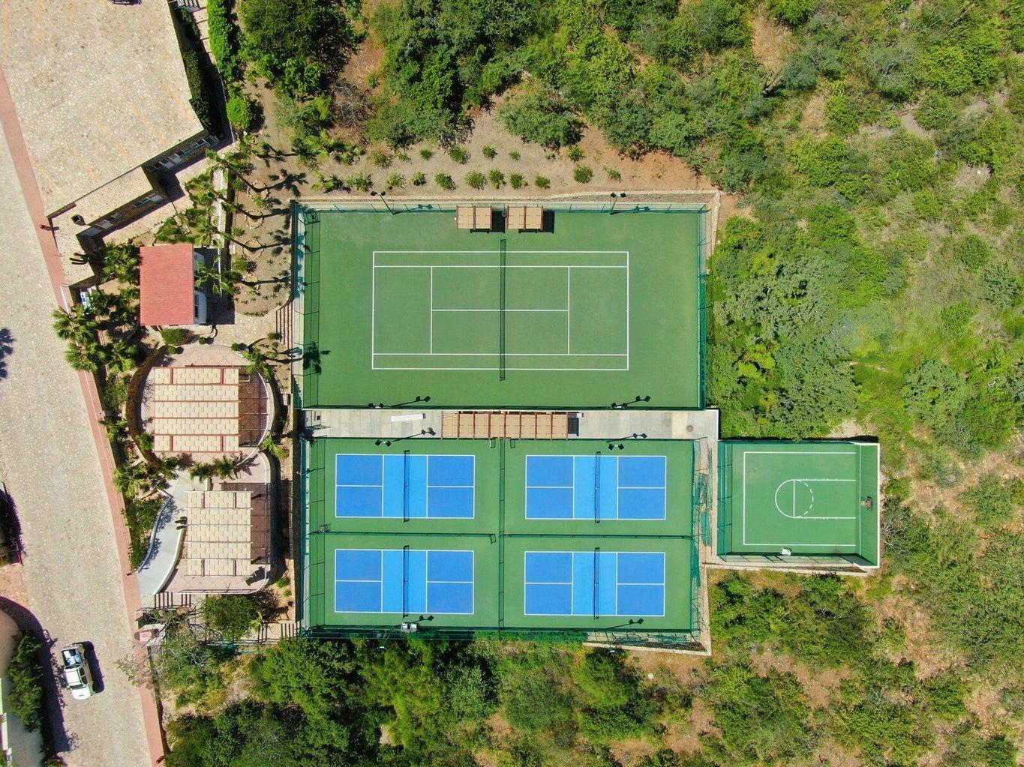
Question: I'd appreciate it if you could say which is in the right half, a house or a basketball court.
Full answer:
What appears in the right half is a basketball court.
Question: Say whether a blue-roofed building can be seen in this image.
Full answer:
No, I can't see a single blue-roofed building in this photo.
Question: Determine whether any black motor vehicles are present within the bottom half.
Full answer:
No, no black motor vehicle appears within the bottom half.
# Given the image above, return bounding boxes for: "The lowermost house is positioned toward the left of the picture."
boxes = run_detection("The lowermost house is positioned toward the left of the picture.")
[139,245,213,333]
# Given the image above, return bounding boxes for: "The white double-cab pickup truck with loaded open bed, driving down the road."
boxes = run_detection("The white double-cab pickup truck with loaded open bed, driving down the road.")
[60,638,95,701]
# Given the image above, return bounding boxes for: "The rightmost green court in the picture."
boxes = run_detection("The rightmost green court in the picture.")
[715,441,858,559]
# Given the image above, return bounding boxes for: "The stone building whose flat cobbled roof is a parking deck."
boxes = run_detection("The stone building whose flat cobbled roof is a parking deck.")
[0,0,217,217]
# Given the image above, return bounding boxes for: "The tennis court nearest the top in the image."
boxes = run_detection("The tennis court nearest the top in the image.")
[302,211,704,409]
